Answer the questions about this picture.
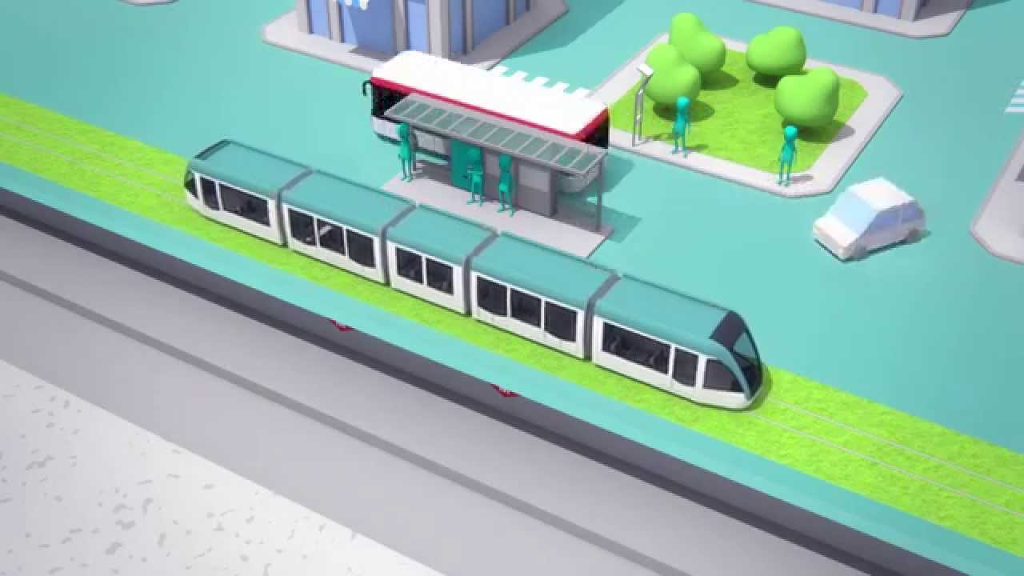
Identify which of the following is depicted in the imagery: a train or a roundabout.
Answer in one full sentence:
The image shows a train.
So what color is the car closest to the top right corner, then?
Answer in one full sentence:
The car closest to the top right corner is white.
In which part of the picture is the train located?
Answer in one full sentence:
Look in the center portion of the view to spot the train.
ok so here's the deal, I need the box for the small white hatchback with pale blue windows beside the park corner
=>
[816,171,930,255]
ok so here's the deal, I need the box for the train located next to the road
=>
[185,143,765,409]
